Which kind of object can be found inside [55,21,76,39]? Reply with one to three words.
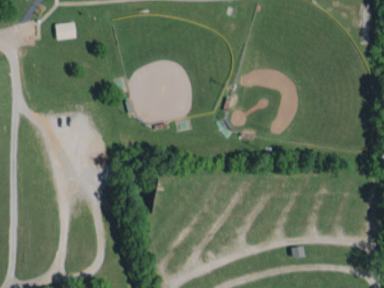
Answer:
building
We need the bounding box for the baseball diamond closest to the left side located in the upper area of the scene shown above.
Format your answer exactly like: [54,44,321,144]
[114,15,232,124]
